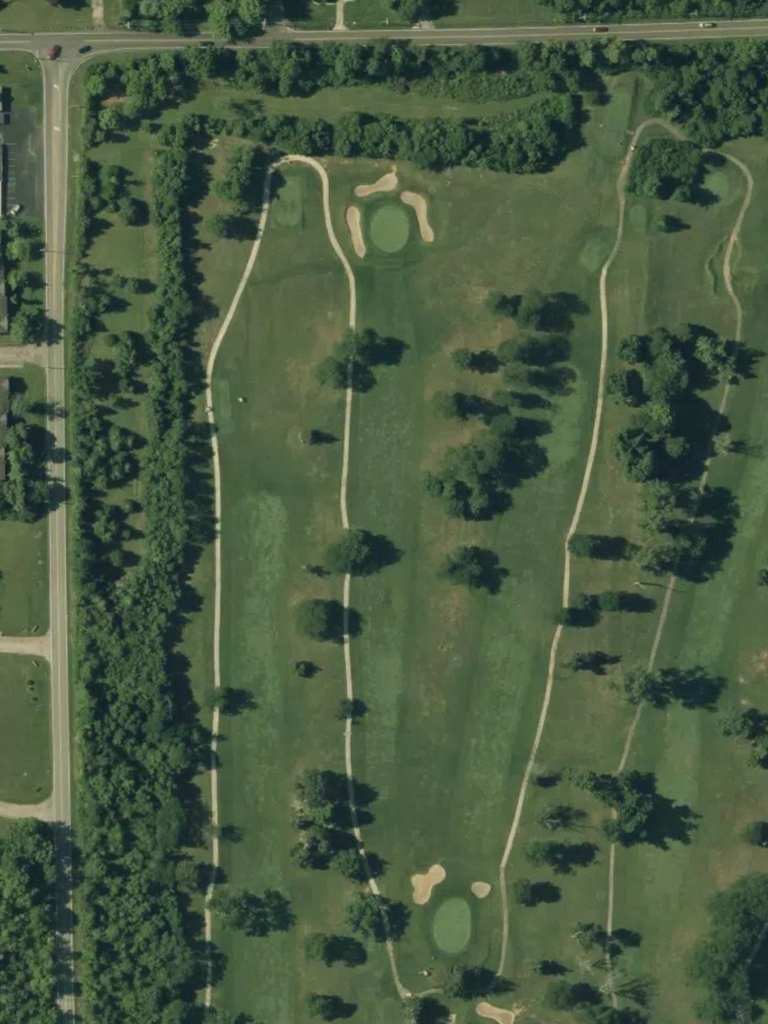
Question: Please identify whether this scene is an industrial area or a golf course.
golf course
